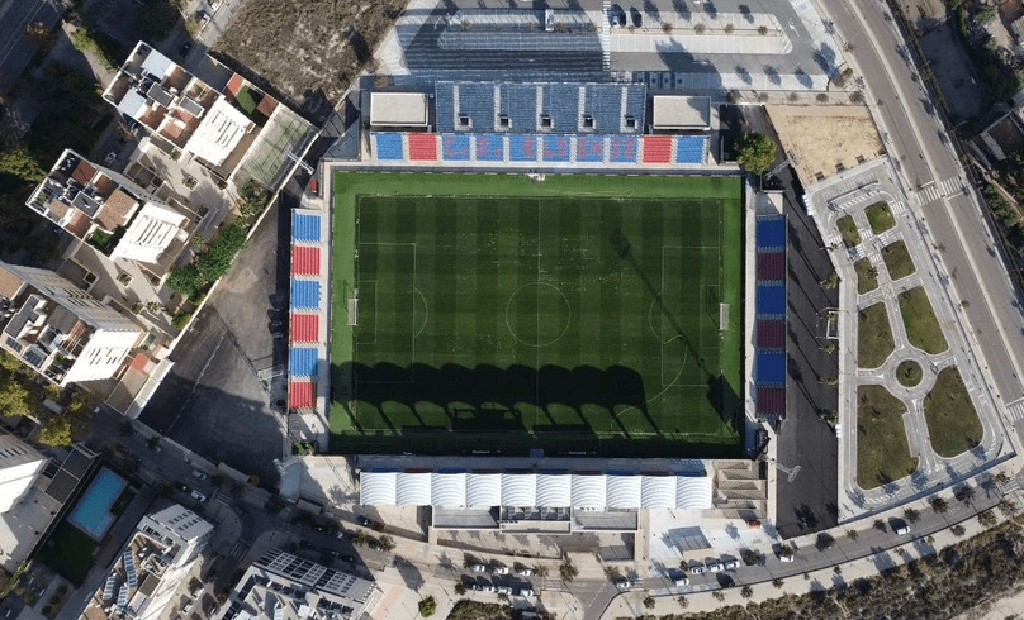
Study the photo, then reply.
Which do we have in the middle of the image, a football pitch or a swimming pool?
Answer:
football pitch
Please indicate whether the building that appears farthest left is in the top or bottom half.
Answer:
bottom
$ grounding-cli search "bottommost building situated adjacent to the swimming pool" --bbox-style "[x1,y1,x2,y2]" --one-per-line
[75,503,212,620]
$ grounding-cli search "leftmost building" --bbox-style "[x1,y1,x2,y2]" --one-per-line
[0,428,44,514]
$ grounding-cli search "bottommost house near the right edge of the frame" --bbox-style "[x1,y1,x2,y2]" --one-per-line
[989,115,1024,168]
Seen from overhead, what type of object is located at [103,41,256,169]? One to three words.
building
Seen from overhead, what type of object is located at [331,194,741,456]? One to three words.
soccer field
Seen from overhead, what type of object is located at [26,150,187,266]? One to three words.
building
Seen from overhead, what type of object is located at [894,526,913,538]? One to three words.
vehicle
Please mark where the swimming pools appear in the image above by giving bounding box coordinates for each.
[68,466,128,539]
